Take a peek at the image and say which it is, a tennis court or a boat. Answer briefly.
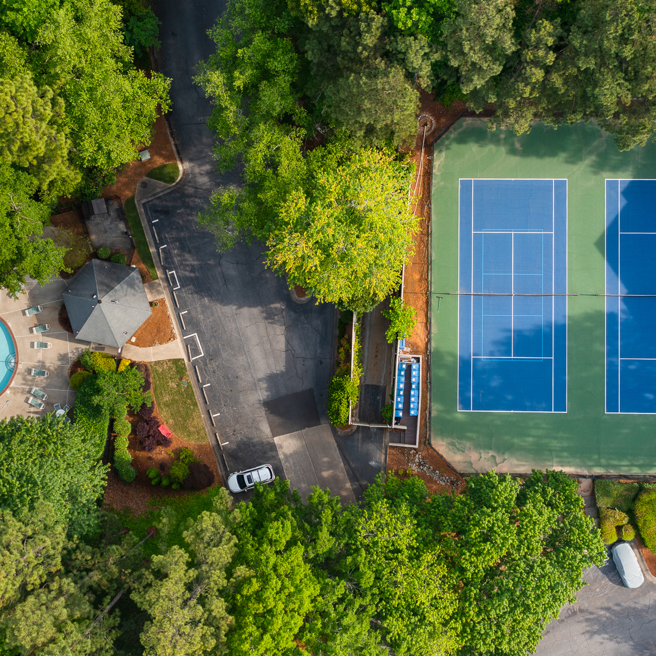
tennis court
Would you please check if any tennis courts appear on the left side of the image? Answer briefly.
No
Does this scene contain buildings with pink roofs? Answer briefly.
No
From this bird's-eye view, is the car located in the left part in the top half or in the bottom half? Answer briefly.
bottom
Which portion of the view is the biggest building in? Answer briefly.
left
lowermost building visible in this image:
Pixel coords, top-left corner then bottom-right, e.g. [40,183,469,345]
[62,258,153,348]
